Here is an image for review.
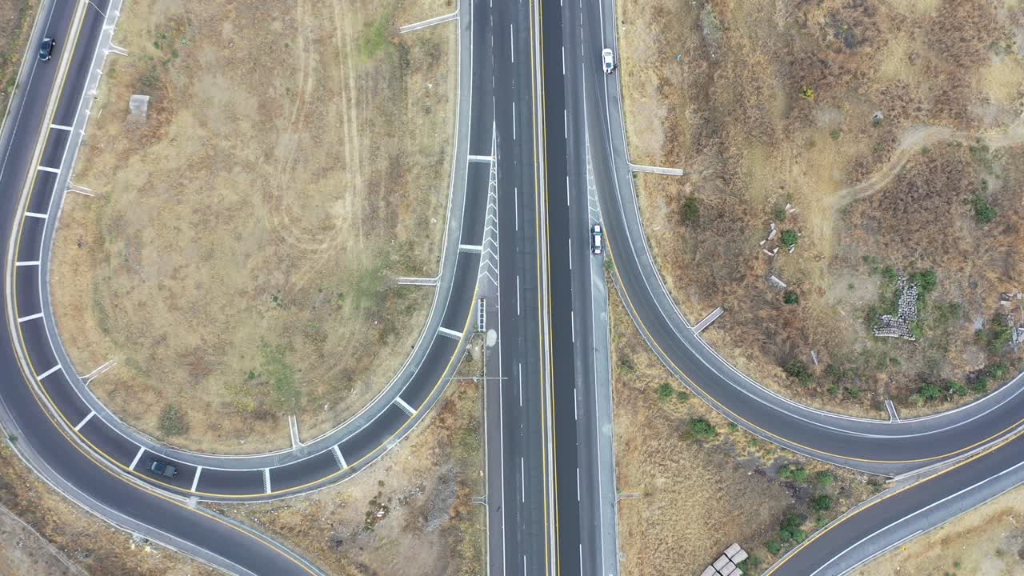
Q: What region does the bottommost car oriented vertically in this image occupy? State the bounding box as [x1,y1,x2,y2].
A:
[591,226,604,252]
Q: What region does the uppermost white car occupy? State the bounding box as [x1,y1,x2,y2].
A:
[603,49,615,71]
